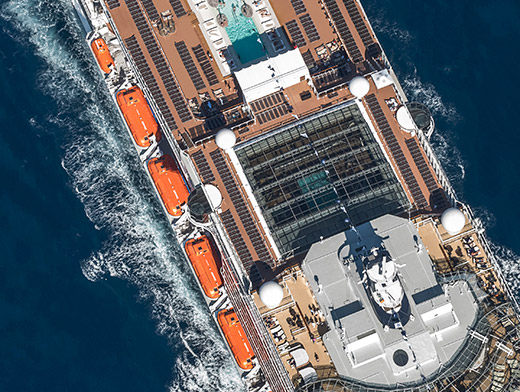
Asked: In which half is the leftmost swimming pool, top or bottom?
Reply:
top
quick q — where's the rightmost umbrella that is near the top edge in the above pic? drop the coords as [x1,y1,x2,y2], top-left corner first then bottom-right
[240,5,255,19]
